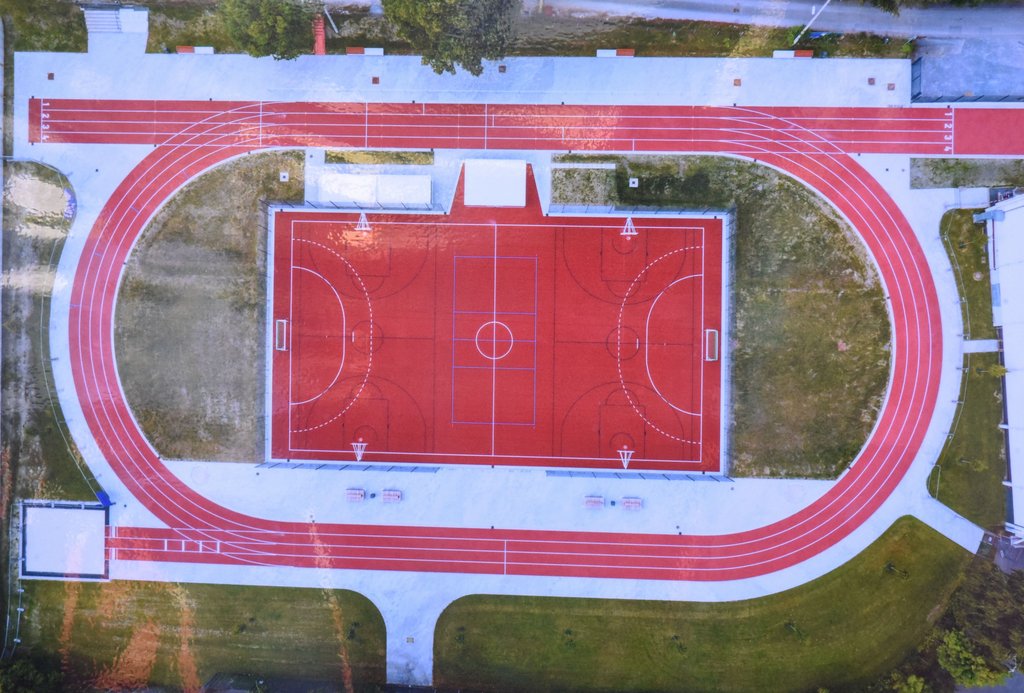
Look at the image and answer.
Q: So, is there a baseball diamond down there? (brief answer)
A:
No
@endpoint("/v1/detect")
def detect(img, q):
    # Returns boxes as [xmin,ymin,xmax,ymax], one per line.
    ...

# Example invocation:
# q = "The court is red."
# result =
[265,163,729,477]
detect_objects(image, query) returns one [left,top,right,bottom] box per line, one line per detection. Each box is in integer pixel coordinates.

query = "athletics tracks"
[28,98,1024,581]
